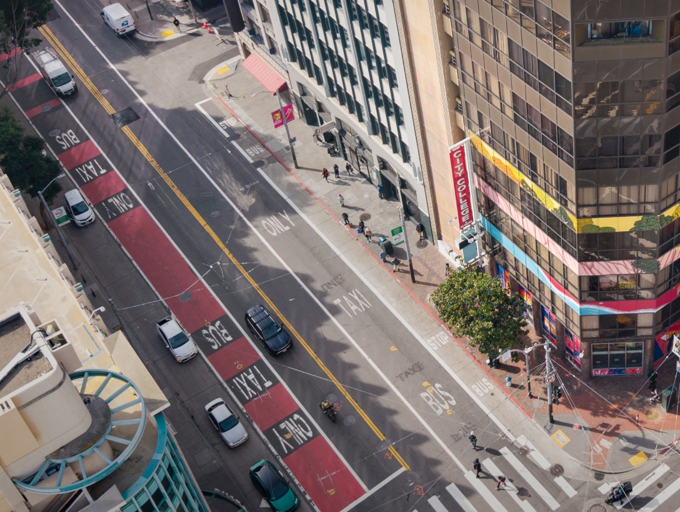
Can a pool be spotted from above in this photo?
No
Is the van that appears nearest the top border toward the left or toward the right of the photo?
left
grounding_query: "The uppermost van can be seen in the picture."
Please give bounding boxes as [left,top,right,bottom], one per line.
[95,0,140,40]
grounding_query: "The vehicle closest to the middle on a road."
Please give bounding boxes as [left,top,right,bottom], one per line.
[244,306,297,359]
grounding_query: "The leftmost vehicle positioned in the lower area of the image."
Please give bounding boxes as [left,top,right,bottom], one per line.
[152,314,204,368]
